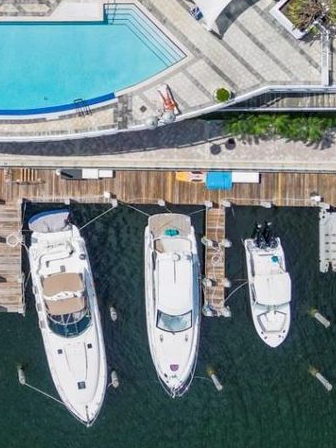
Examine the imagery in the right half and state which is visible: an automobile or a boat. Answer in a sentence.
Visible in the right half is a boat.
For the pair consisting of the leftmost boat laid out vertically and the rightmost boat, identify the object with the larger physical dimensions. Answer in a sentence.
Compared with the rightmost boat, the leftmost boat laid out vertically is the bigger one.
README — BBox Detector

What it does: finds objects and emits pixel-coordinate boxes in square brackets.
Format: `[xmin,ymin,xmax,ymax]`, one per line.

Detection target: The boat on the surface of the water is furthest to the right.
[243,213,290,348]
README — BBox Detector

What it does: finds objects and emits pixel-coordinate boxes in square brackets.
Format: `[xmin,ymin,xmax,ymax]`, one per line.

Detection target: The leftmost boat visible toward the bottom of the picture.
[26,206,106,431]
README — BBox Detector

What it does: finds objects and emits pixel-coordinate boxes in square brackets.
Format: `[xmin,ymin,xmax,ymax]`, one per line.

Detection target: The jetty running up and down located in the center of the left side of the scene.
[0,203,22,312]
